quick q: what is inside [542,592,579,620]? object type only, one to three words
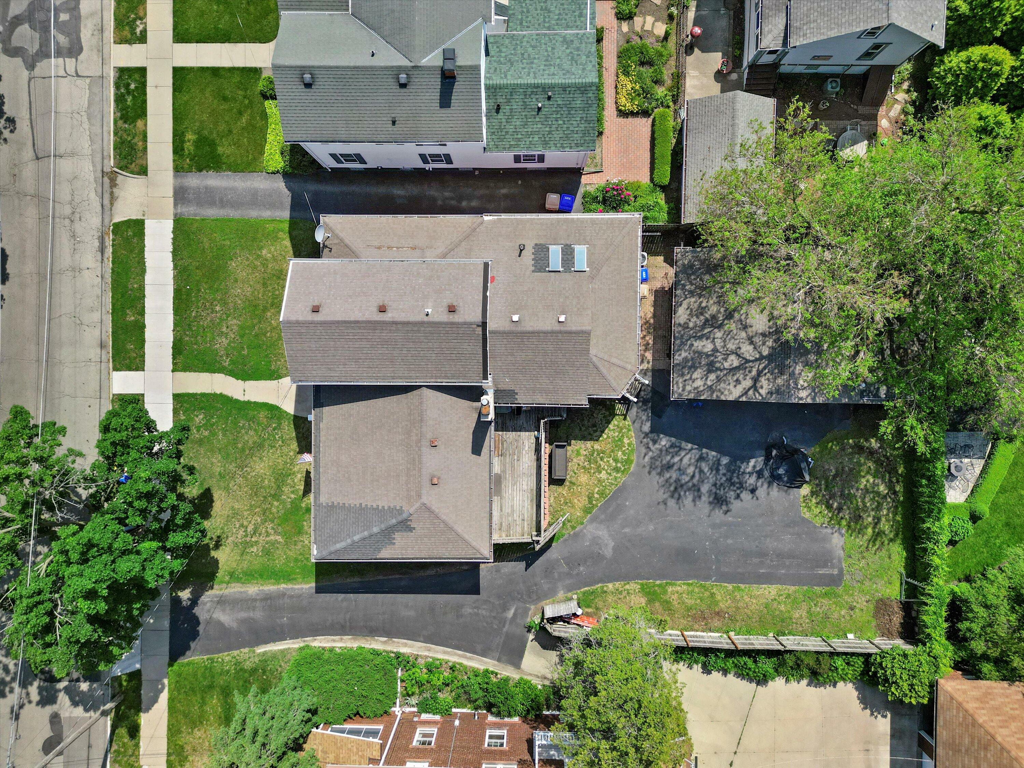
shed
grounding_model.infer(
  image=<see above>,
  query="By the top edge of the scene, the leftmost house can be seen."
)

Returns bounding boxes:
[271,0,599,172]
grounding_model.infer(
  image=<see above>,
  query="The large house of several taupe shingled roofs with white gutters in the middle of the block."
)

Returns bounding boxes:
[278,213,642,561]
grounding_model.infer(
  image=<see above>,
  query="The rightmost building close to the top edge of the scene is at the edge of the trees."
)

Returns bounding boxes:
[744,0,946,106]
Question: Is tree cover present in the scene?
Yes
